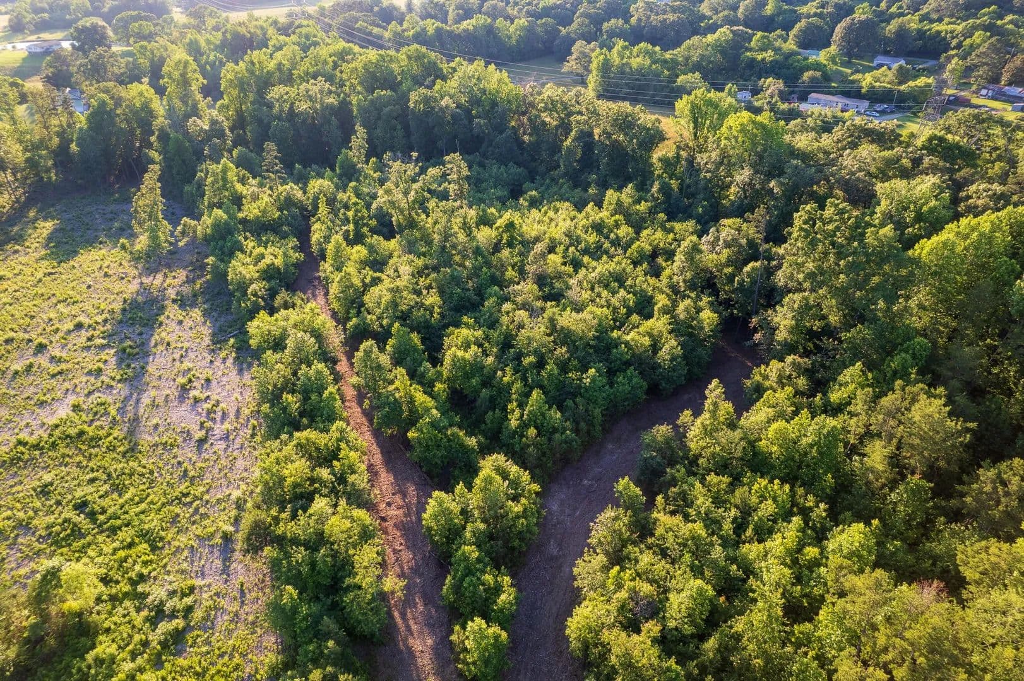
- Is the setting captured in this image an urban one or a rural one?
rural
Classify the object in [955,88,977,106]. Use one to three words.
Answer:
barn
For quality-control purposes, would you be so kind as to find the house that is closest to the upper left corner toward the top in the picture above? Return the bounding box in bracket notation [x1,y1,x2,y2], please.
[24,35,61,51]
